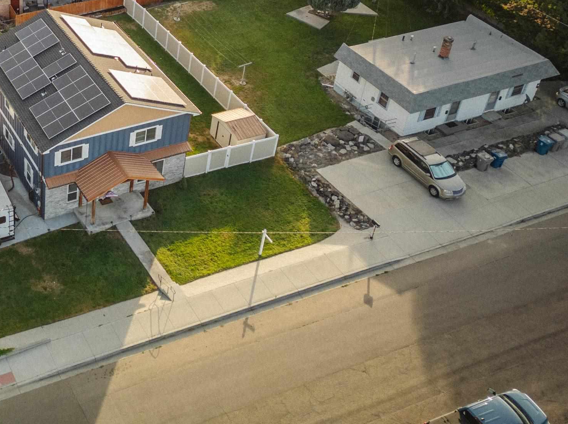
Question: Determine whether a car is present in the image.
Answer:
Yes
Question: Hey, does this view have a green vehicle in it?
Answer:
No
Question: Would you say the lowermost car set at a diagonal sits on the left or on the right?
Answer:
right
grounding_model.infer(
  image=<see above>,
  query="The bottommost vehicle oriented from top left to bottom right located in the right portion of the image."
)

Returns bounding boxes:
[390,131,471,200]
